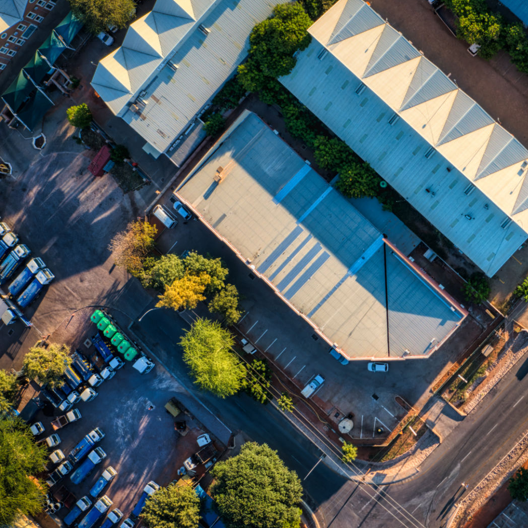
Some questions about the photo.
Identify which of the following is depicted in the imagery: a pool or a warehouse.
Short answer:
warehouse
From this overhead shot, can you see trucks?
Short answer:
Yes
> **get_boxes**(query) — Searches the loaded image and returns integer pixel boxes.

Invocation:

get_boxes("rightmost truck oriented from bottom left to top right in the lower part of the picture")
[299,374,325,398]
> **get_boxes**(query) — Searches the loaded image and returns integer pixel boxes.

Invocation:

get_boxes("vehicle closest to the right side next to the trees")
[464,38,485,61]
